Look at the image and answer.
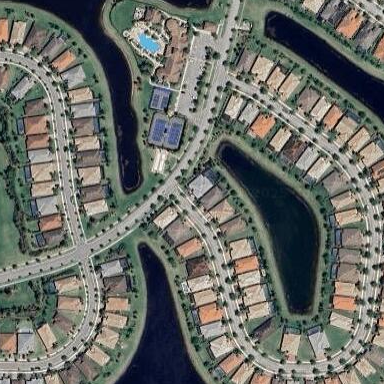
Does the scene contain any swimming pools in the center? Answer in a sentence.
No, no swimming pool can be made out in the center.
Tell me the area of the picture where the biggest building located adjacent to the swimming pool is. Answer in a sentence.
The biggest building located adjacent to the swimming pool is located in the top region of the scene.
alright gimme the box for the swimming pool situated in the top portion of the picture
[127,21,168,60]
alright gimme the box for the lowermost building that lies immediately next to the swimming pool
[153,17,189,84]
